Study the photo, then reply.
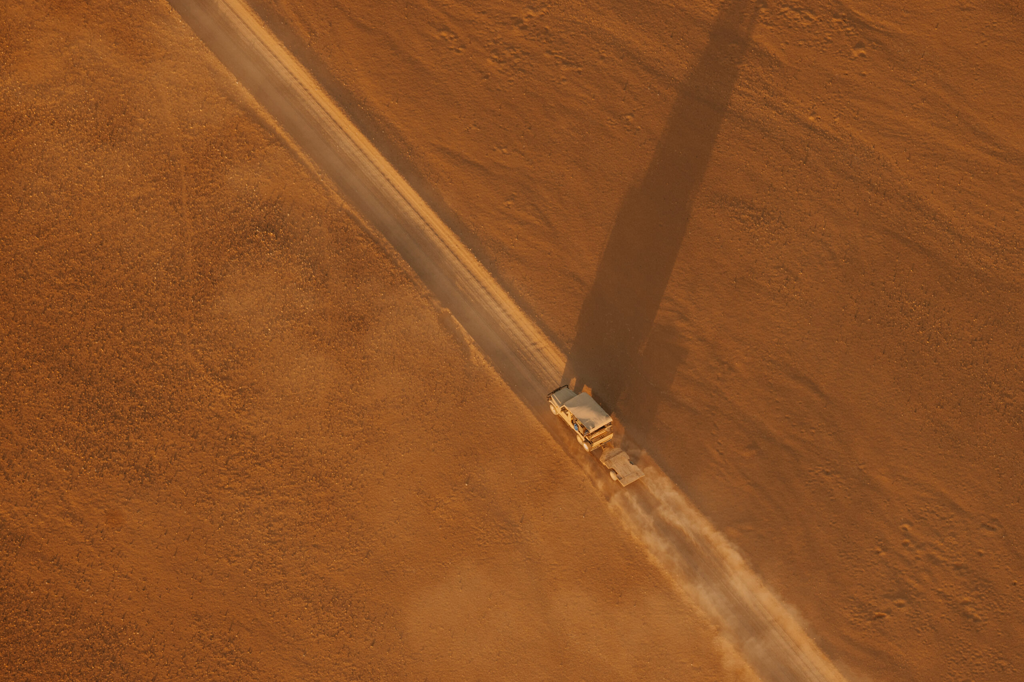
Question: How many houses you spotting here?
0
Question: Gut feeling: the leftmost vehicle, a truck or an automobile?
truck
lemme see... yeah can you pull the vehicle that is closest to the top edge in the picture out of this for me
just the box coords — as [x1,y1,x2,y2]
[547,385,614,452]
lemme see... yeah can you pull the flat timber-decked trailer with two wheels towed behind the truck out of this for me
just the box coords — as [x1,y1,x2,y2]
[600,445,646,489]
